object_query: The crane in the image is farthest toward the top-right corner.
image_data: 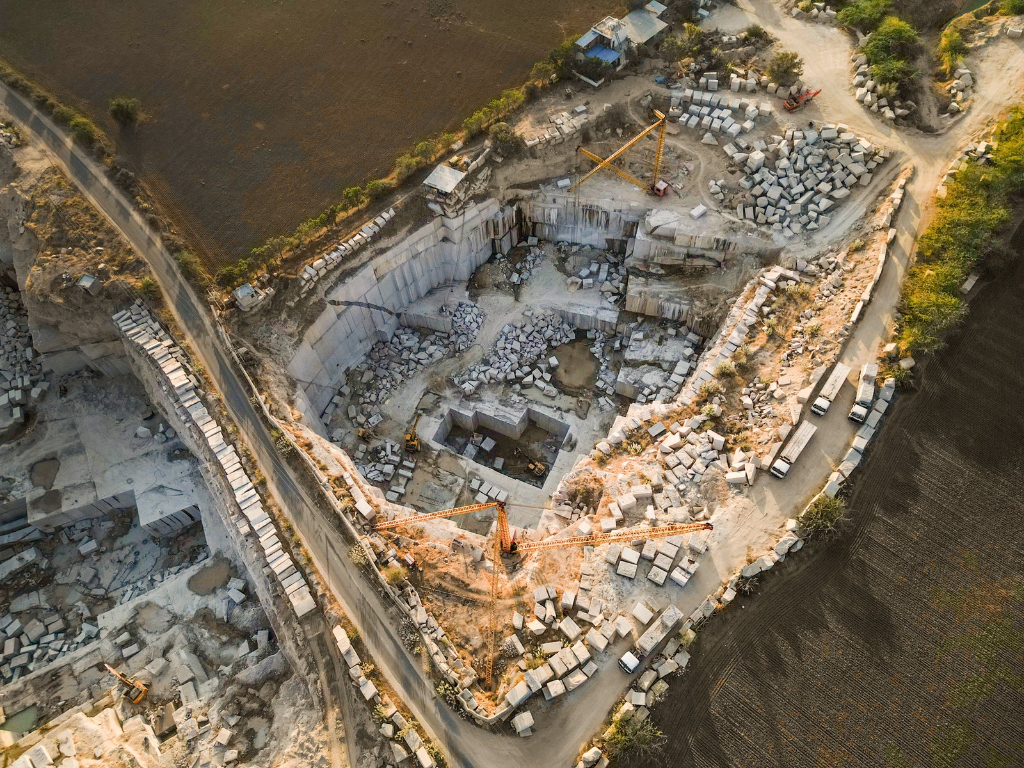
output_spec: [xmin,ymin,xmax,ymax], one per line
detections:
[566,108,670,194]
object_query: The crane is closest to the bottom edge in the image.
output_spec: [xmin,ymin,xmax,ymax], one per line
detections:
[372,500,716,694]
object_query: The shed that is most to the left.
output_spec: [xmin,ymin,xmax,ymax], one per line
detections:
[77,274,102,298]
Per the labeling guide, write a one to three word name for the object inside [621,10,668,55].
shed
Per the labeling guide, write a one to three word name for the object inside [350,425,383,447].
work vehicle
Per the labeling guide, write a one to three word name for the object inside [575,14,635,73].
house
